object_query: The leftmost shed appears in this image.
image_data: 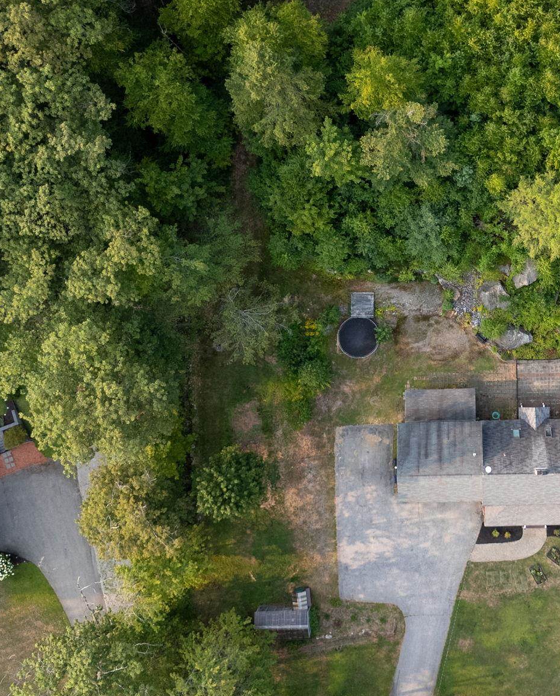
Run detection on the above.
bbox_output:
[254,600,312,638]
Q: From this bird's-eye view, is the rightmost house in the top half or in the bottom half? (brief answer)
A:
bottom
